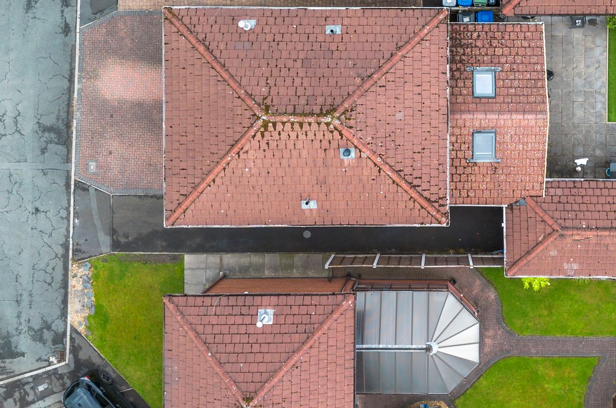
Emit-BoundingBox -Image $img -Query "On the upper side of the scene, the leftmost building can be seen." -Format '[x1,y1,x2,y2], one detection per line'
[162,5,550,227]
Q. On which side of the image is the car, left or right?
left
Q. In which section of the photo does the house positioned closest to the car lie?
bottom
